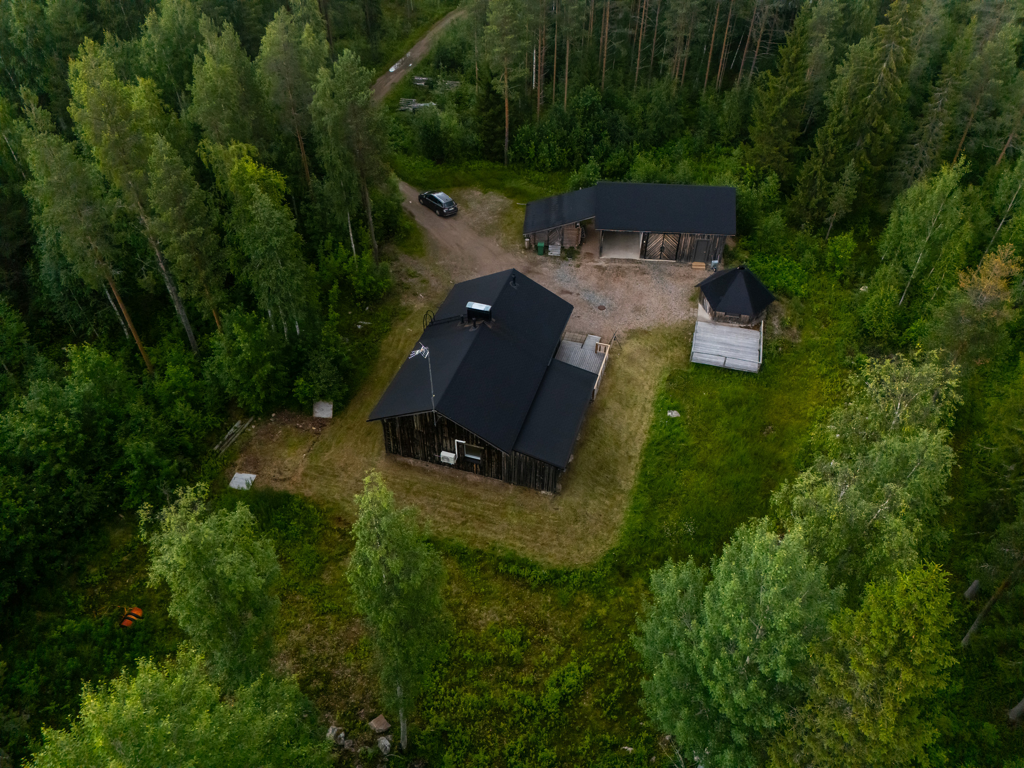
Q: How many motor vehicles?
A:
one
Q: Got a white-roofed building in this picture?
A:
No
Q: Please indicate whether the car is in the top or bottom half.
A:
top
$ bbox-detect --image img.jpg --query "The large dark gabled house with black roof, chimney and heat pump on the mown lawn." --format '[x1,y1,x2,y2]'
[366,269,598,493]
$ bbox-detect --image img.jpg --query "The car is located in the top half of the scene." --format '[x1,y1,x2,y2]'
[419,192,454,215]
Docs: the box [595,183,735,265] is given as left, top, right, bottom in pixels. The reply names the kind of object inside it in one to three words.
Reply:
building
